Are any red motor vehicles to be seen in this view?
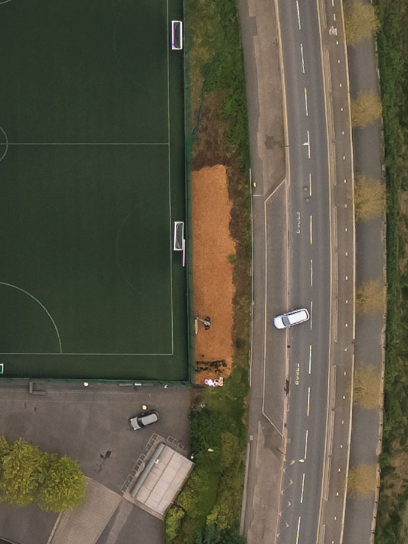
No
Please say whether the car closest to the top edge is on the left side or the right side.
right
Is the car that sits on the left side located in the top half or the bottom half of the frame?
bottom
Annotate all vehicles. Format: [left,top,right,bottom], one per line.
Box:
[274,308,311,330]
[128,410,160,431]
